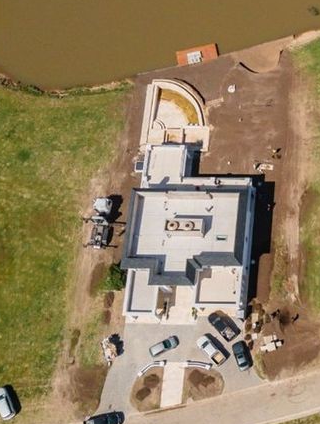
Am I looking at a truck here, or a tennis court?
truck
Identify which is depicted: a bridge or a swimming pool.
swimming pool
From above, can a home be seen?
Yes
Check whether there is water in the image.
Yes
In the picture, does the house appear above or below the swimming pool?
below it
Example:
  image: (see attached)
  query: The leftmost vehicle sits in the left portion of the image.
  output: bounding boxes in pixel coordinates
[0,387,18,422]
